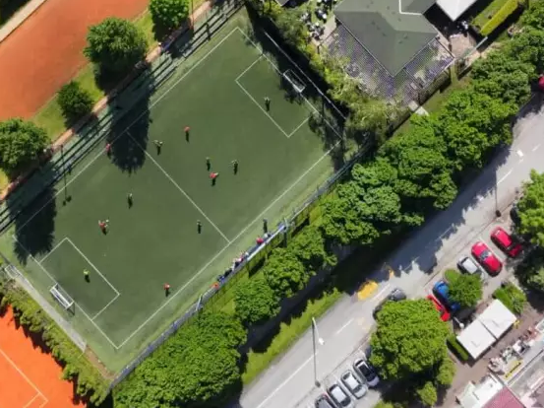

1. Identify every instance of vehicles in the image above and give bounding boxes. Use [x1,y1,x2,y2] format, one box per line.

[427,280,460,313]
[324,380,356,408]
[453,254,481,273]
[371,287,404,317]
[350,354,382,388]
[312,392,338,408]
[419,292,451,323]
[339,368,367,398]
[469,241,500,273]
[490,226,520,256]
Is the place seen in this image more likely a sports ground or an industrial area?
sports ground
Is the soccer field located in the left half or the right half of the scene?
left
